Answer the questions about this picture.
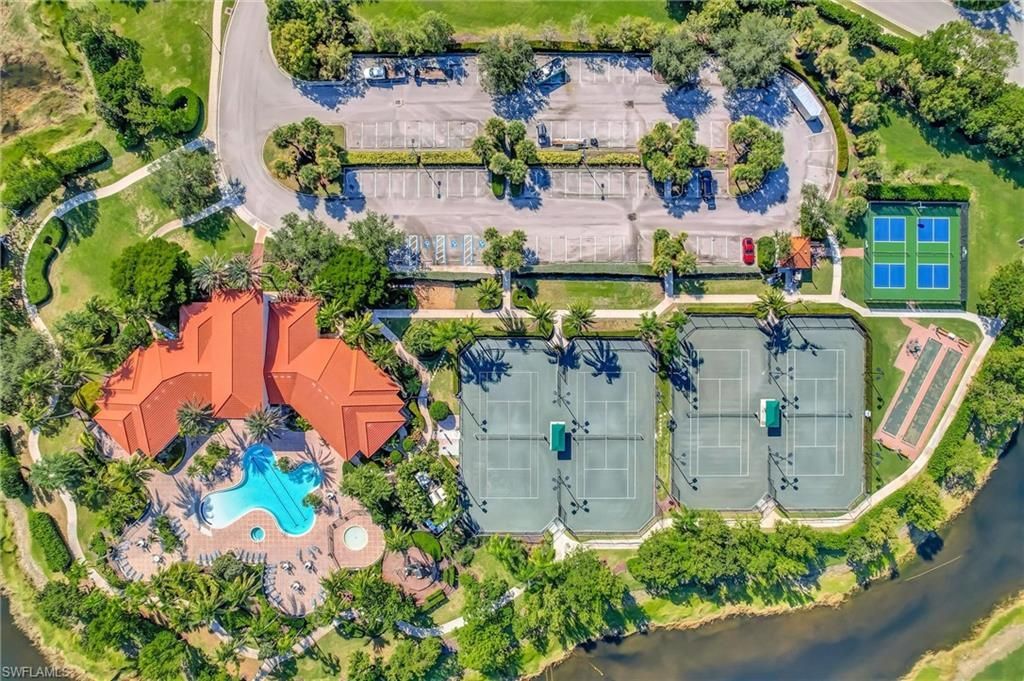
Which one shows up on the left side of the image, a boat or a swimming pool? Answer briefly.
swimming pool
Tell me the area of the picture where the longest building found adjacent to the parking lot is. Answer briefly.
left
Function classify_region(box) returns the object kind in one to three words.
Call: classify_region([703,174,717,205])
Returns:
vehicle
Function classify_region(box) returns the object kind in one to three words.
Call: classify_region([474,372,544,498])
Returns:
tennis court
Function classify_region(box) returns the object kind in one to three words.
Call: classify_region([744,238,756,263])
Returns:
vehicle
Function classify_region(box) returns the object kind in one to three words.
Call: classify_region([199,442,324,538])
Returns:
swimming pool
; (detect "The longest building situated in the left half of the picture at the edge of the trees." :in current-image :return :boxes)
[94,291,406,460]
